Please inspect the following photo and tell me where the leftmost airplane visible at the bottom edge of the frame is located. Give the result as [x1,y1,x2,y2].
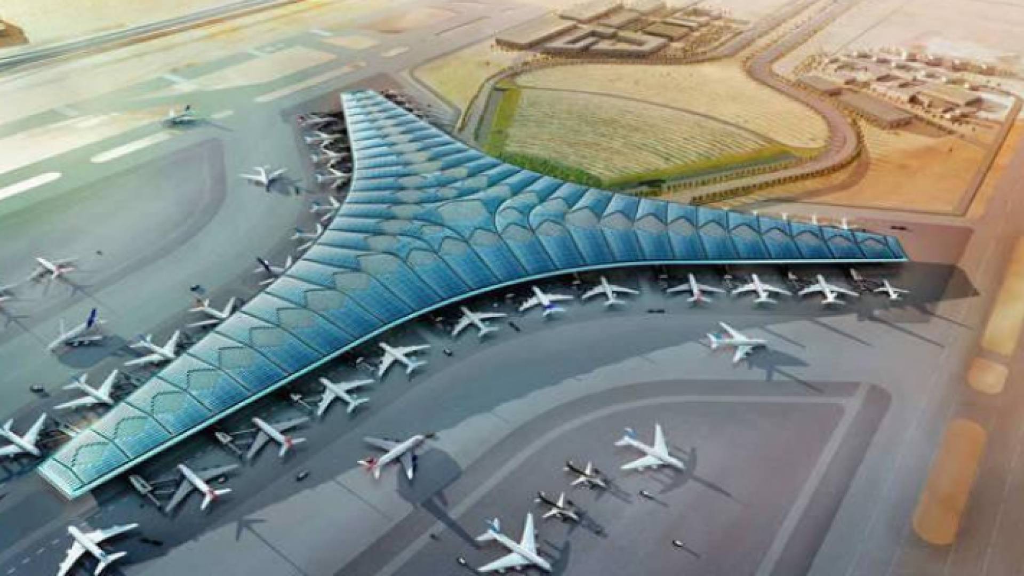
[60,524,134,576]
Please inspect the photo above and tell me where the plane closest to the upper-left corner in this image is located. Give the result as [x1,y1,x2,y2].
[163,106,195,125]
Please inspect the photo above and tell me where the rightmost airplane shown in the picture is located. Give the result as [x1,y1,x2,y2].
[878,282,905,298]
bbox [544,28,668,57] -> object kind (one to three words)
building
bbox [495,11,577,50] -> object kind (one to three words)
shed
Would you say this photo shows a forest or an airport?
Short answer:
airport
